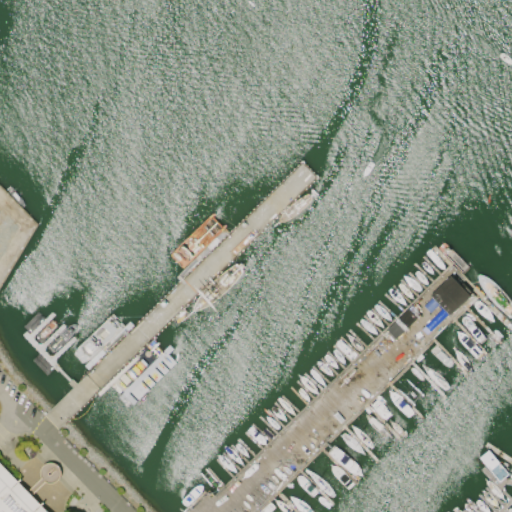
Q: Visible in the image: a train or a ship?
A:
ship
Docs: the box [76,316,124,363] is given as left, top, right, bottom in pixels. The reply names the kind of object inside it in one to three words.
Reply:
ship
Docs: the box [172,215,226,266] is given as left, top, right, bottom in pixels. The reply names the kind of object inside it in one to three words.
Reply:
ship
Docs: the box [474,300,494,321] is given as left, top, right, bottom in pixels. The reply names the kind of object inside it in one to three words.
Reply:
boat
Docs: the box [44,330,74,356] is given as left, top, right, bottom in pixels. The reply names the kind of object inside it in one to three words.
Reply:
boat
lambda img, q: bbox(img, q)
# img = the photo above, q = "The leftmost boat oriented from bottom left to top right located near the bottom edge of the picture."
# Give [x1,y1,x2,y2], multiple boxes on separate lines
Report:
[181,487,204,508]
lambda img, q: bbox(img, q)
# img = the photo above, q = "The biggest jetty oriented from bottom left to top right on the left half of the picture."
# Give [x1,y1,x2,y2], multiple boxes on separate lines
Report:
[46,163,318,428]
